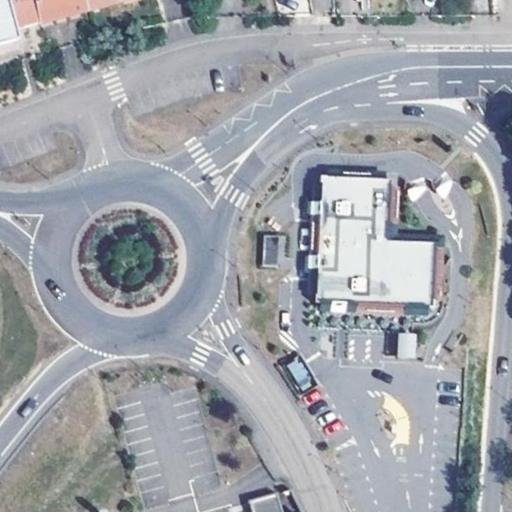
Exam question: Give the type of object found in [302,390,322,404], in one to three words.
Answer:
car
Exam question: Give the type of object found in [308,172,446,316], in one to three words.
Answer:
building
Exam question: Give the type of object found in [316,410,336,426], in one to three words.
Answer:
car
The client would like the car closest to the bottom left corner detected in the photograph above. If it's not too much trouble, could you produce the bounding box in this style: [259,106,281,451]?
[18,396,38,416]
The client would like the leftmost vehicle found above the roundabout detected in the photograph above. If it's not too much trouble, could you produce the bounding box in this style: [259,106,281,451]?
[212,69,225,92]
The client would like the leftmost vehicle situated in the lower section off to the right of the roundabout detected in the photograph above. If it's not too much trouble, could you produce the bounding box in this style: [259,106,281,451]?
[232,344,250,366]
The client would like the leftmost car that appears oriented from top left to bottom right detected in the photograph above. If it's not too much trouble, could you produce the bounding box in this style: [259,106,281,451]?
[45,279,64,300]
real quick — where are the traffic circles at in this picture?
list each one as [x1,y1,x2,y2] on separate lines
[30,162,227,358]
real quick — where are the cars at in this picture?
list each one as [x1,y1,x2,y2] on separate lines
[280,0,302,11]
[18,396,38,416]
[498,356,508,376]
[438,395,460,405]
[316,410,336,426]
[232,344,250,366]
[309,400,330,415]
[212,69,225,92]
[372,368,394,384]
[302,390,322,404]
[282,310,292,330]
[300,228,310,250]
[403,106,424,116]
[438,382,460,392]
[324,420,344,435]
[45,279,64,300]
